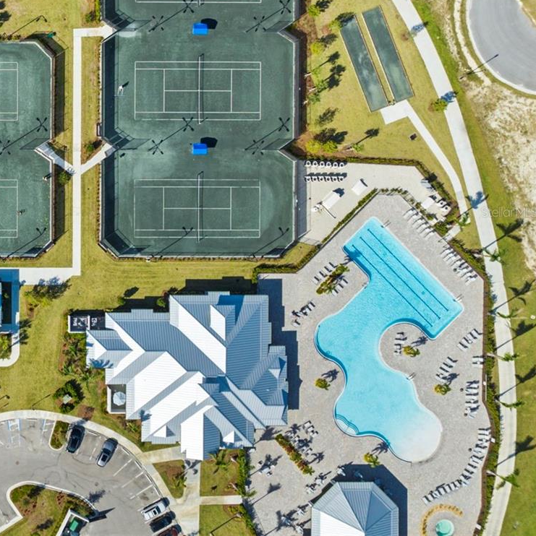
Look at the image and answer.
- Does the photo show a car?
Yes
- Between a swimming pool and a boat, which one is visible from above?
swimming pool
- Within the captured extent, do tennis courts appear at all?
Yes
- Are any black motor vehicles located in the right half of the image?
No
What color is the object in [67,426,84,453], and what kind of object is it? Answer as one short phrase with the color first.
black car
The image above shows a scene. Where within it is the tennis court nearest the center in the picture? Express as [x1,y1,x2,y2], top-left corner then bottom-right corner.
[105,148,294,256]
